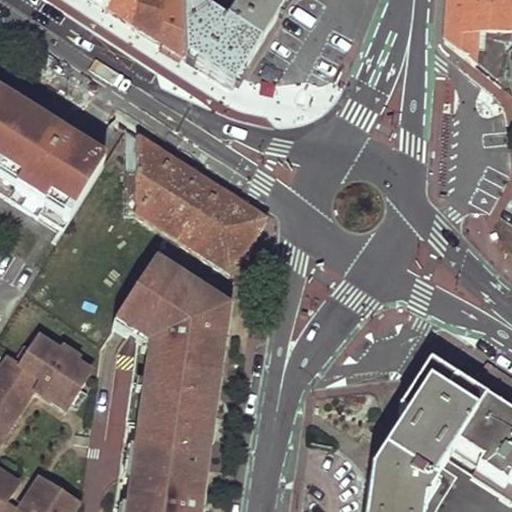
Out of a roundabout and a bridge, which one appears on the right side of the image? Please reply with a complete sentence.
You can see a roundabout on the right side of the image.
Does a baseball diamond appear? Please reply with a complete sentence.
No, no baseball diamond is visible in the view.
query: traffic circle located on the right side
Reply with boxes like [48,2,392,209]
[304,154,412,262]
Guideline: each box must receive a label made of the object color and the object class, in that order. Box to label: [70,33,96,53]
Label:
white vehicle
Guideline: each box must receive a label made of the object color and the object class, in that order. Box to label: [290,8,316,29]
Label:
white vehicle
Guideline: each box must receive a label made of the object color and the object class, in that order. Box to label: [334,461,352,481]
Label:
white car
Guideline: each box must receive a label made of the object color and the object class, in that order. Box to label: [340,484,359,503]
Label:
white car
